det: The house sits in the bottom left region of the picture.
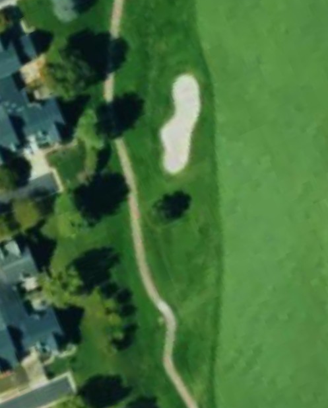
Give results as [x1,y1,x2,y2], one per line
[0,240,67,368]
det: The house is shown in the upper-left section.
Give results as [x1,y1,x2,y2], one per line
[0,33,69,157]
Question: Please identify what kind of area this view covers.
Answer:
golf course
